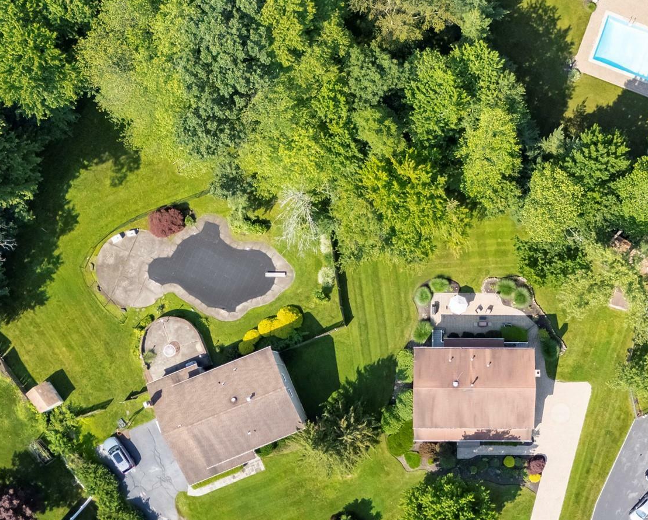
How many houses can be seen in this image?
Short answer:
2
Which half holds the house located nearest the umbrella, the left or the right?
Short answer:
right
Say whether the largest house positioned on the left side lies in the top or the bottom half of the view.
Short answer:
bottom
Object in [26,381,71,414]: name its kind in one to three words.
shed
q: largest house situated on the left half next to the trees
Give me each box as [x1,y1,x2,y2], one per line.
[140,346,309,486]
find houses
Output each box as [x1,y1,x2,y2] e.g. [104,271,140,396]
[413,330,542,448]
[140,346,309,486]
